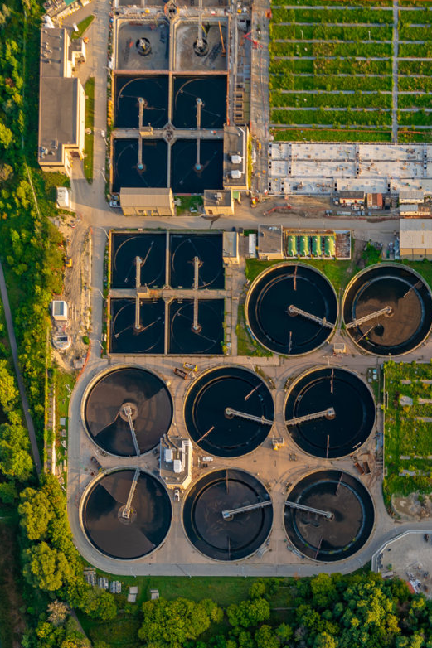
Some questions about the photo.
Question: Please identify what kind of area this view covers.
industrial area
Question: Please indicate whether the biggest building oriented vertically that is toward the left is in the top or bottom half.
top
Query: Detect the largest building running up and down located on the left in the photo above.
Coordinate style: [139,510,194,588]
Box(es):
[38,28,86,175]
